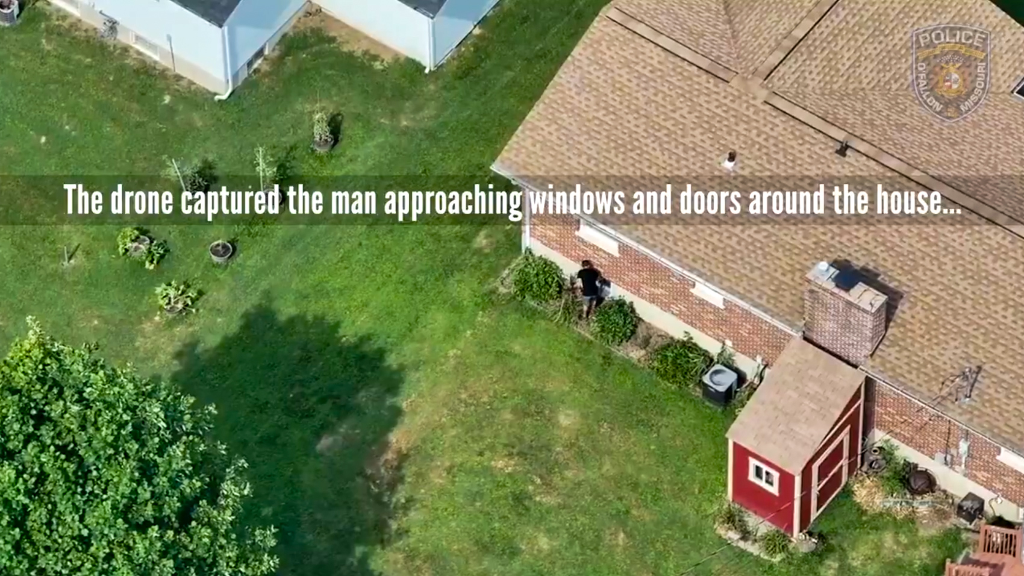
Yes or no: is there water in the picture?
No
